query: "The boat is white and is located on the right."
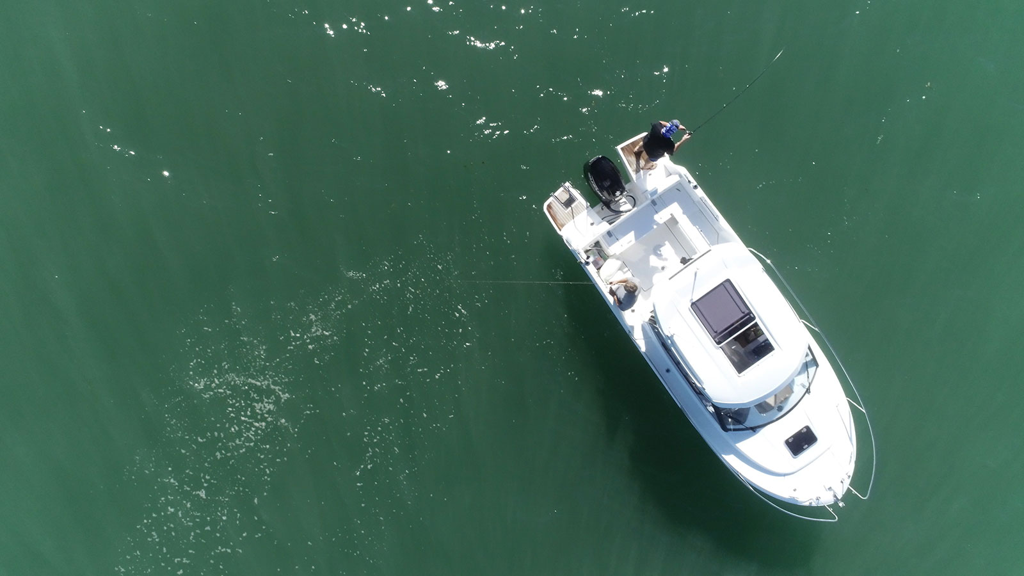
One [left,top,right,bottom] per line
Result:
[546,134,881,519]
